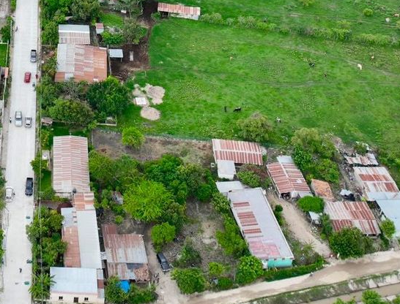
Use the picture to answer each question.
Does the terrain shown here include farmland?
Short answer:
Yes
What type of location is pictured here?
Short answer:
residential area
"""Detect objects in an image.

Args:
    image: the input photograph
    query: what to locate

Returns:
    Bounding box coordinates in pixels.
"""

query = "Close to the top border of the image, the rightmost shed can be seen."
[158,2,200,21]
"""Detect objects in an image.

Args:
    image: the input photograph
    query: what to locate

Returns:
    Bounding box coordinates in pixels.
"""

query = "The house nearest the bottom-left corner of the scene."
[50,265,97,303]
